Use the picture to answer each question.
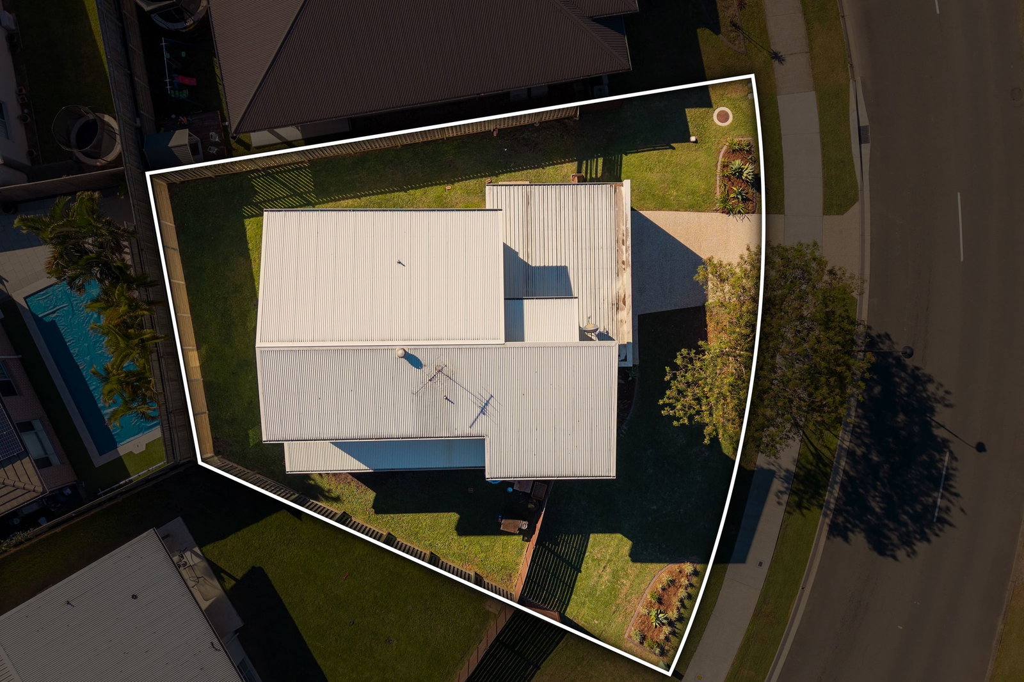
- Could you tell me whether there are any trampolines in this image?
Yes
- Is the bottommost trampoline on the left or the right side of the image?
left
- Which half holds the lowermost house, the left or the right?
left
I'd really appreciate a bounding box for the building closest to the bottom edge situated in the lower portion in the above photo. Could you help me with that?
[0,519,287,682]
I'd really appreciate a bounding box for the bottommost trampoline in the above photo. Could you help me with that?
[48,100,123,169]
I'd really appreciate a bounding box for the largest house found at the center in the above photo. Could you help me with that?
[257,179,632,480]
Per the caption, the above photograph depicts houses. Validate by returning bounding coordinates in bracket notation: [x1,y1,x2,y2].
[0,519,287,682]
[0,0,31,171]
[257,179,632,480]
[210,0,641,136]
[0,312,76,520]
